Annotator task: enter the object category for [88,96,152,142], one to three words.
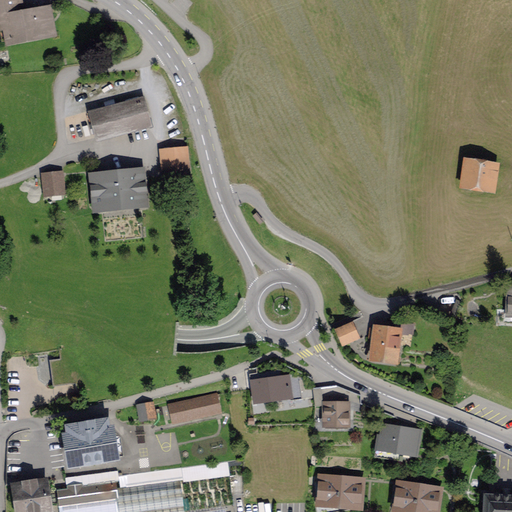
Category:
barn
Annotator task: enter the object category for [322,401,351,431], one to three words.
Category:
house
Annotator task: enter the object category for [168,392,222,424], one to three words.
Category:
building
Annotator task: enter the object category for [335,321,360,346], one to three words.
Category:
shed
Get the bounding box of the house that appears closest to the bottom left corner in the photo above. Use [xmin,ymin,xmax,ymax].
[10,477,54,512]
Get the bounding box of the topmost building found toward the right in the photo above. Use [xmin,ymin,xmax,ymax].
[459,157,500,194]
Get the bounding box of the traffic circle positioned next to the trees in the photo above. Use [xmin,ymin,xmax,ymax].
[245,269,320,344]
